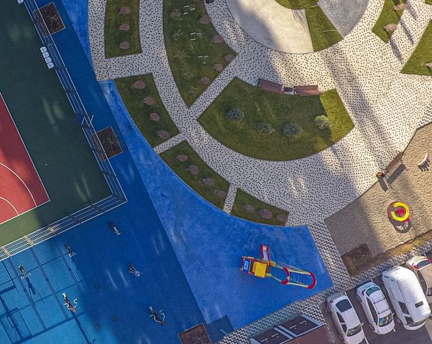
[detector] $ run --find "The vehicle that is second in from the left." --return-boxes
[325,292,368,344]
